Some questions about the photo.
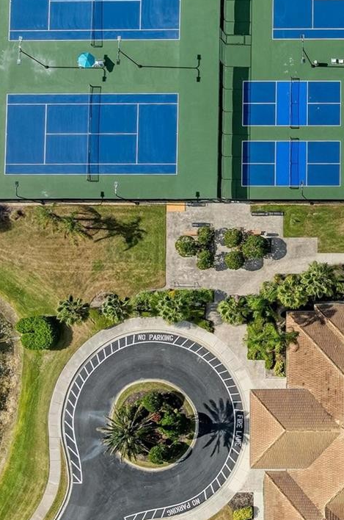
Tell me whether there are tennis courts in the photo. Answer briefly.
Yes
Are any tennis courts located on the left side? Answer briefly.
Yes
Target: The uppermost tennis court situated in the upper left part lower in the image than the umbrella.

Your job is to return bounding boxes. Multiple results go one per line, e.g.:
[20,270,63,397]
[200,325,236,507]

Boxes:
[5,93,179,174]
